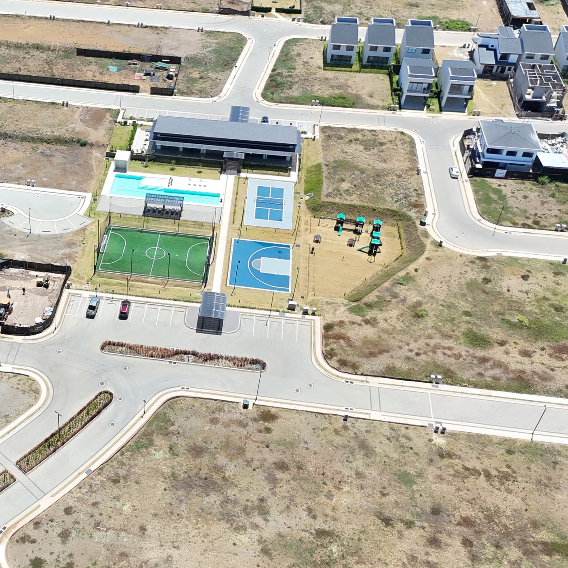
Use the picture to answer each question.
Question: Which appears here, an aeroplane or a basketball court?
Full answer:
The one in the frame is a basketball court.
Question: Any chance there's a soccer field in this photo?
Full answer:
Yes, a soccer field can be made out from above.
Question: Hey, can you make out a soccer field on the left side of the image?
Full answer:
Yes, on the left side of the image there is a soccer field.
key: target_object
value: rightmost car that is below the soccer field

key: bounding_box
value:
[118,301,130,319]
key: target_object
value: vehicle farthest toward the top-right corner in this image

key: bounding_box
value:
[449,167,461,179]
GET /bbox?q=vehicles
[118,301,130,319]
[33,271,53,288]
[0,299,15,329]
[449,167,461,179]
[85,298,98,318]
[261,115,269,124]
